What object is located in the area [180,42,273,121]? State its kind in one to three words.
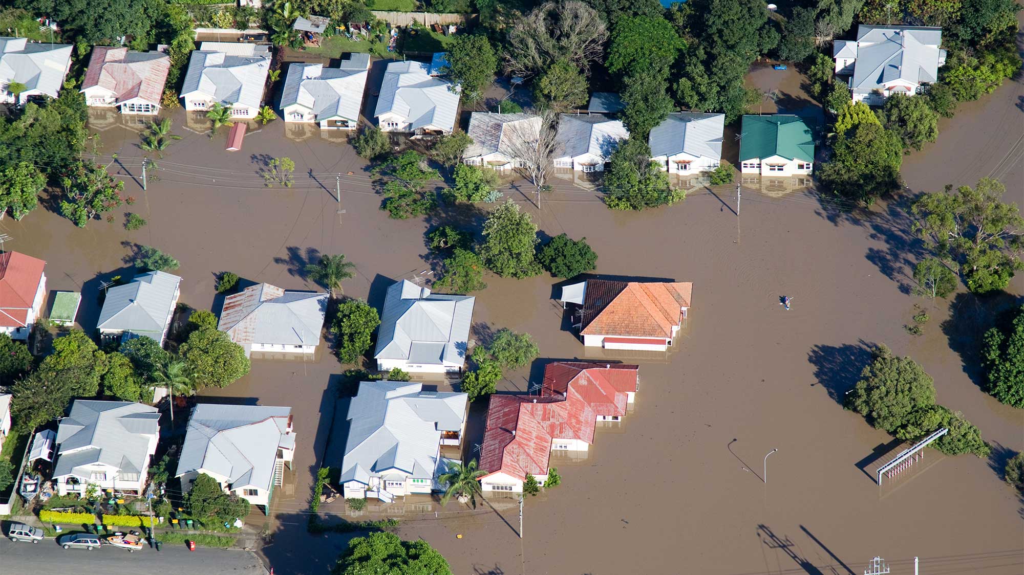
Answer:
house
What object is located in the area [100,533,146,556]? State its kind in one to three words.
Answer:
boat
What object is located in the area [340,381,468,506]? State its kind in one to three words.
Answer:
house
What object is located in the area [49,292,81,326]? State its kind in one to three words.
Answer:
shed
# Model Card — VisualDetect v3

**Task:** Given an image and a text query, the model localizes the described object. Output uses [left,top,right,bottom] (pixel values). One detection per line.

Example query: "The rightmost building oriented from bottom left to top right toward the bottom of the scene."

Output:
[471,362,639,490]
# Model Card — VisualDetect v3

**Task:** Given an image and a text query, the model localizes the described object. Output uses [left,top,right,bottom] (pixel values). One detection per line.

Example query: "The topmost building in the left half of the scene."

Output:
[293,15,331,49]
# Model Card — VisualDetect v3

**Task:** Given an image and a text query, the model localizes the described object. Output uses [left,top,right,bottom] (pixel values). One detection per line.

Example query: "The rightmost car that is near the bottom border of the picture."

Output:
[58,532,100,551]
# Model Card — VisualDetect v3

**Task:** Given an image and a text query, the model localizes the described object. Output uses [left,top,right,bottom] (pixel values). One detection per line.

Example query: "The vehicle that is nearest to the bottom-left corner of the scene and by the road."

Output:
[6,523,45,544]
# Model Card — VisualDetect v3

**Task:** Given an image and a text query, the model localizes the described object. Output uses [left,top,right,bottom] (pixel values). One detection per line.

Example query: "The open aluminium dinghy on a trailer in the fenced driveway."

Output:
[21,472,39,507]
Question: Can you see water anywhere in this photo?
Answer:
Yes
